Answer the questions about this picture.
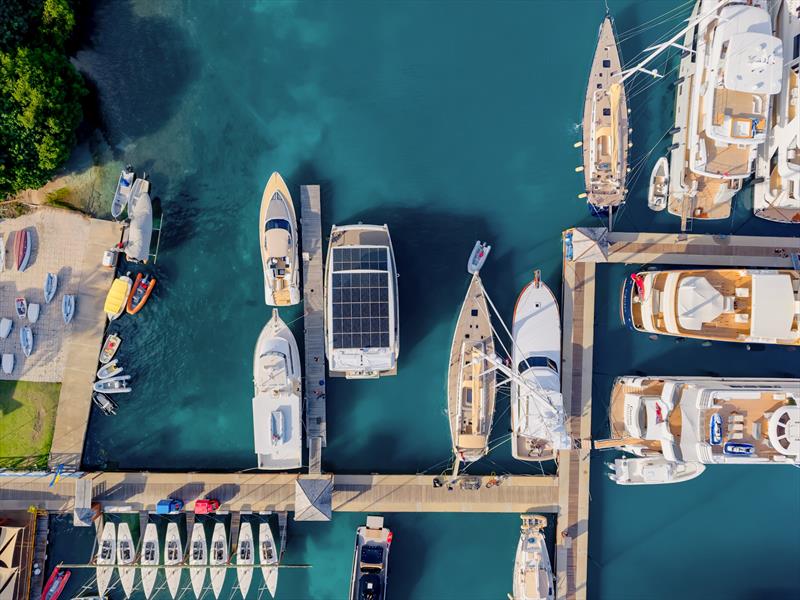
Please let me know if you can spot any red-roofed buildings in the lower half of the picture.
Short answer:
No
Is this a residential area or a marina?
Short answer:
marina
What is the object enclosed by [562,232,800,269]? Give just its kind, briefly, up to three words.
pier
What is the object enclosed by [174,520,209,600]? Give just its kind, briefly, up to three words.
boat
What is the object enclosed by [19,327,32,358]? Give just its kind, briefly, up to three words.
boat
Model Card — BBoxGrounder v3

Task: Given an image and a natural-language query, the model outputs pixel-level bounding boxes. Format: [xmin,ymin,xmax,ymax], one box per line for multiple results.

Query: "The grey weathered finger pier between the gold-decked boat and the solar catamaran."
[302,185,327,446]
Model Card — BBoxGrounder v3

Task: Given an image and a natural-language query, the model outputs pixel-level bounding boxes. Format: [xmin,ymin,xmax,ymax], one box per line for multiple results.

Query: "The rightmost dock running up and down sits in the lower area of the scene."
[555,263,595,600]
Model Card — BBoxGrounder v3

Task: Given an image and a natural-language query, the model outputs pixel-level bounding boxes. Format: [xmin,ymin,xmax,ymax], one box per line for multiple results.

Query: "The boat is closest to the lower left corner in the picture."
[46,566,70,600]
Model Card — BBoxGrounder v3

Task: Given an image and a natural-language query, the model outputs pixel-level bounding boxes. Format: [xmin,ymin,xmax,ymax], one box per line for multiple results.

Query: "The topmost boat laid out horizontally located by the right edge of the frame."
[593,266,800,352]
